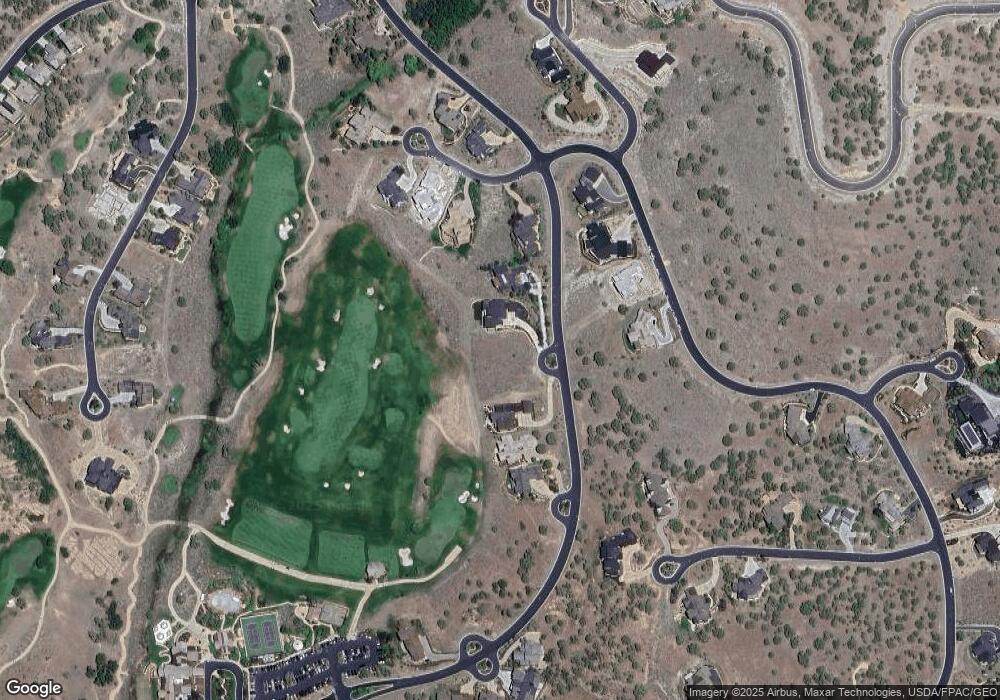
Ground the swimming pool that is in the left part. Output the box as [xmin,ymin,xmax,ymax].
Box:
[200,589,244,616]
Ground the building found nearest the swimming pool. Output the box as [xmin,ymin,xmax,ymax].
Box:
[214,632,233,651]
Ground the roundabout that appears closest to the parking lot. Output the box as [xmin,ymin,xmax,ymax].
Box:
[457,634,503,680]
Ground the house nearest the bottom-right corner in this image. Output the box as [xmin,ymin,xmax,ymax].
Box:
[966,630,1000,666]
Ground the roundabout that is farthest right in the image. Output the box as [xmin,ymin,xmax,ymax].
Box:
[928,350,966,381]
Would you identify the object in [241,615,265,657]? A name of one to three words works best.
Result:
tennis court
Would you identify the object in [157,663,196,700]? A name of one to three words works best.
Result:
building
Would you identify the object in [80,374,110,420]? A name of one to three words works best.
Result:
roundabout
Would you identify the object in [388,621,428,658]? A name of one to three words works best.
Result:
house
